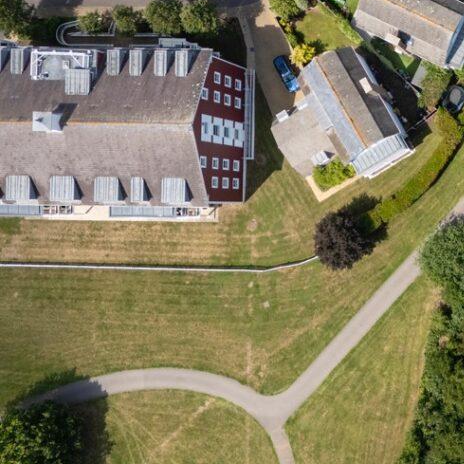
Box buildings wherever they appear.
[270,45,417,182]
[356,0,464,72]
[0,45,254,219]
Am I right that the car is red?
No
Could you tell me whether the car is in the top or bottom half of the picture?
top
